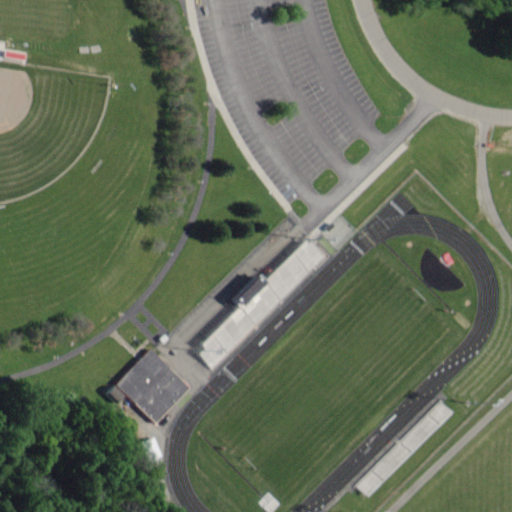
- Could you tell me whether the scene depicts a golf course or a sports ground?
sports ground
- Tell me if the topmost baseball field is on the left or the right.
left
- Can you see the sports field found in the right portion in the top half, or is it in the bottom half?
bottom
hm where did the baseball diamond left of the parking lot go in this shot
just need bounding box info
[0,63,109,204]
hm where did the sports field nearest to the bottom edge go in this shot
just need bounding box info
[186,234,477,512]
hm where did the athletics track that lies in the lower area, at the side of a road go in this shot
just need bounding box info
[167,189,496,512]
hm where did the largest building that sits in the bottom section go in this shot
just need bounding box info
[110,350,190,424]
